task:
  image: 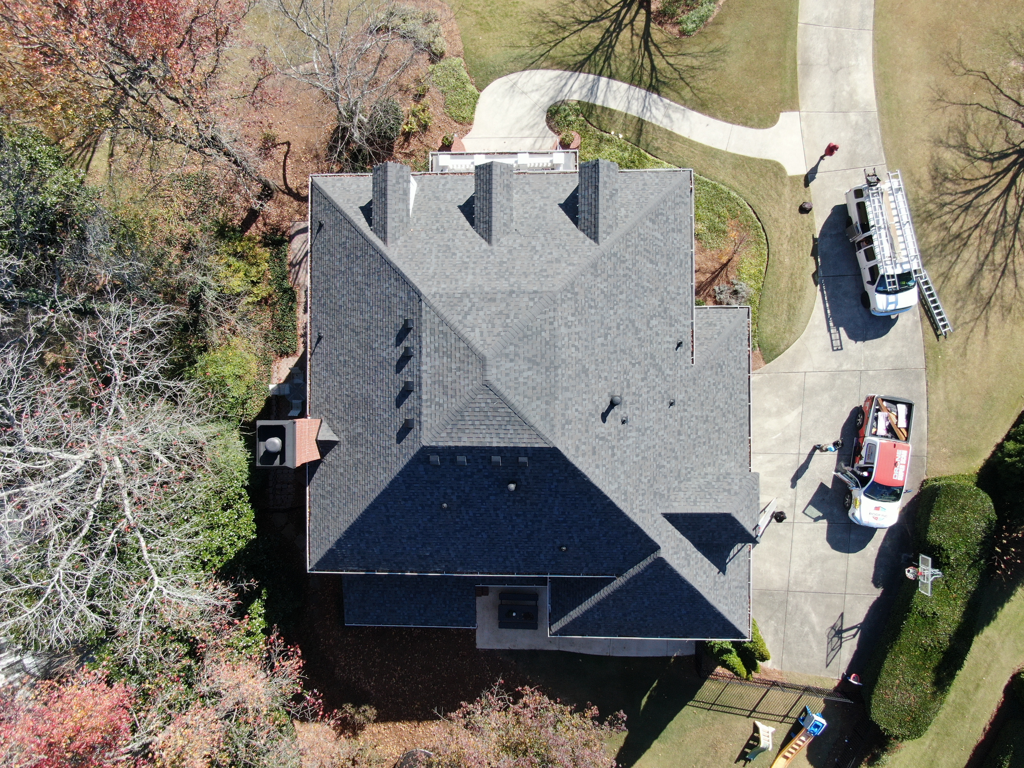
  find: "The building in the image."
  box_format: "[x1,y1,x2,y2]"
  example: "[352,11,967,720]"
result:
[259,151,760,640]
